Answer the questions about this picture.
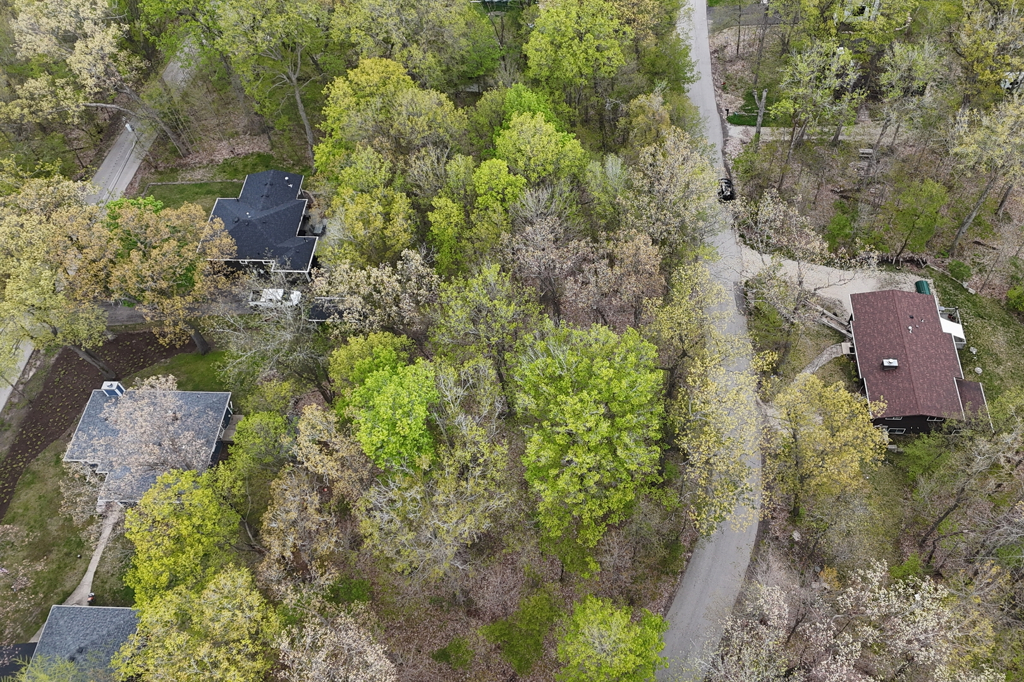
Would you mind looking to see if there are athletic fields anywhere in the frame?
No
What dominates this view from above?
trees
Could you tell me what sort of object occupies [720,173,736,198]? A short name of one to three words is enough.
car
